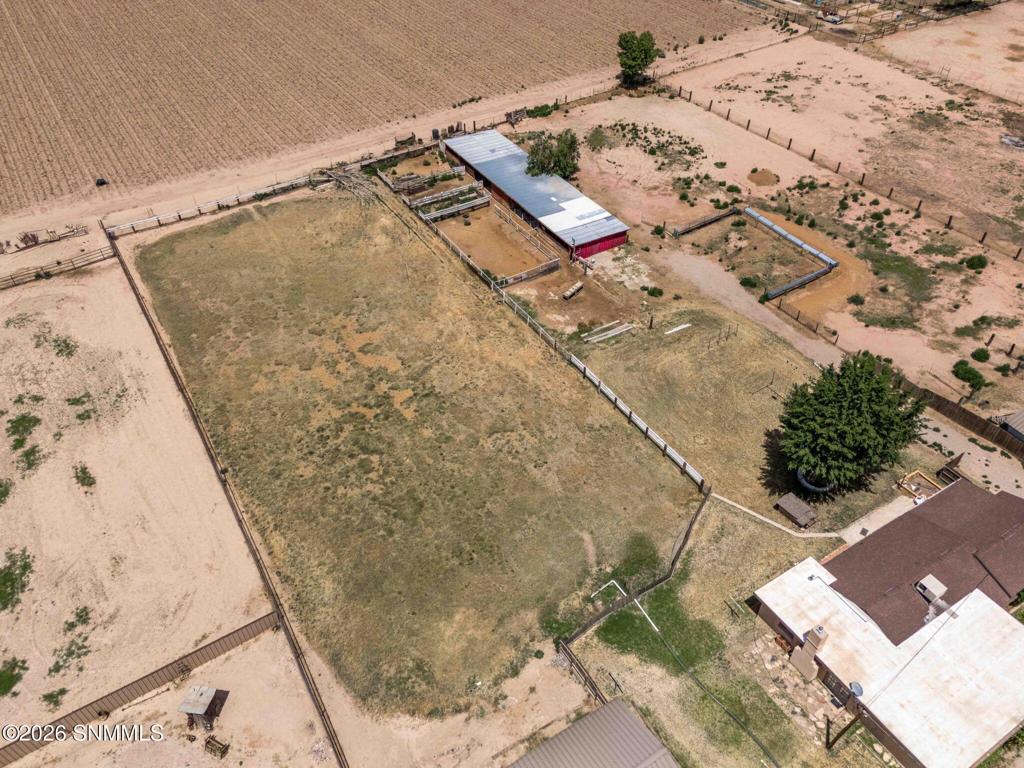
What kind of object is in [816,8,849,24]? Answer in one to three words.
car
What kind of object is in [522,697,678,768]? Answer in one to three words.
shed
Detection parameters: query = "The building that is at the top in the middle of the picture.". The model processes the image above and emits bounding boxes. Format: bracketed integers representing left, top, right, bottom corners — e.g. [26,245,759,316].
[443,131,633,263]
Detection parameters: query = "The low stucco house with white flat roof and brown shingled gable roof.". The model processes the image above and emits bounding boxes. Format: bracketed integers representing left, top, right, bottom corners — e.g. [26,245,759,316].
[753,475,1024,768]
